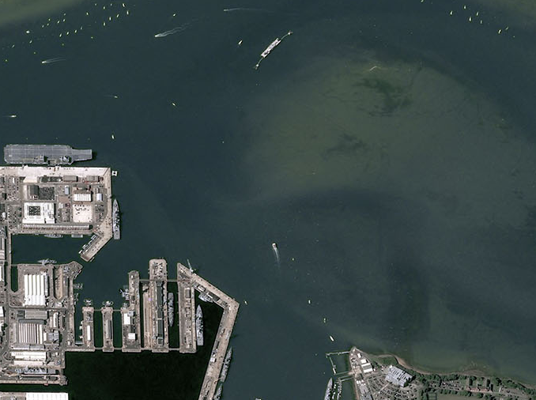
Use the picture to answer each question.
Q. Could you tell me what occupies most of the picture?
water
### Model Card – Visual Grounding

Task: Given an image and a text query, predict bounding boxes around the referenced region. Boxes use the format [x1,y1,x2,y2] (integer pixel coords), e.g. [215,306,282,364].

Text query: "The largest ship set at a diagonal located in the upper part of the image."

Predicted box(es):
[260,31,289,59]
